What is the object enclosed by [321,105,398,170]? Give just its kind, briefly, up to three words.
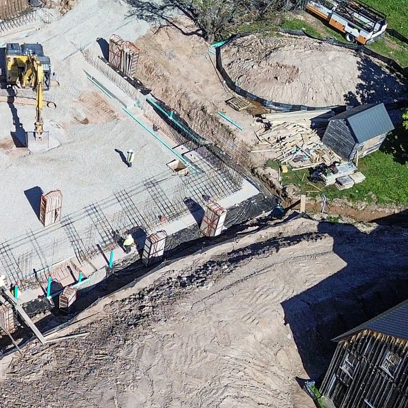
shed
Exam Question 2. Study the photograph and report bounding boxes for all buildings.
[320,296,408,408]
[321,105,398,170]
